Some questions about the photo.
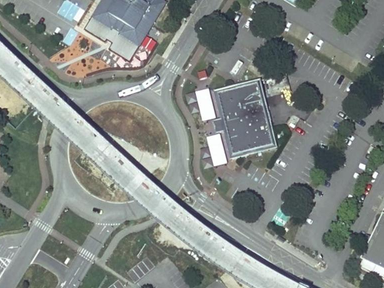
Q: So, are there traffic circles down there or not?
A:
Yes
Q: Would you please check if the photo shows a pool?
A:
No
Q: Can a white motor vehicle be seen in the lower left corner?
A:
No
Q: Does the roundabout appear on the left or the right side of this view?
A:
left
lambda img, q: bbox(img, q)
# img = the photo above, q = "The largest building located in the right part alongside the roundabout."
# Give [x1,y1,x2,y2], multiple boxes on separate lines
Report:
[214,78,277,158]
